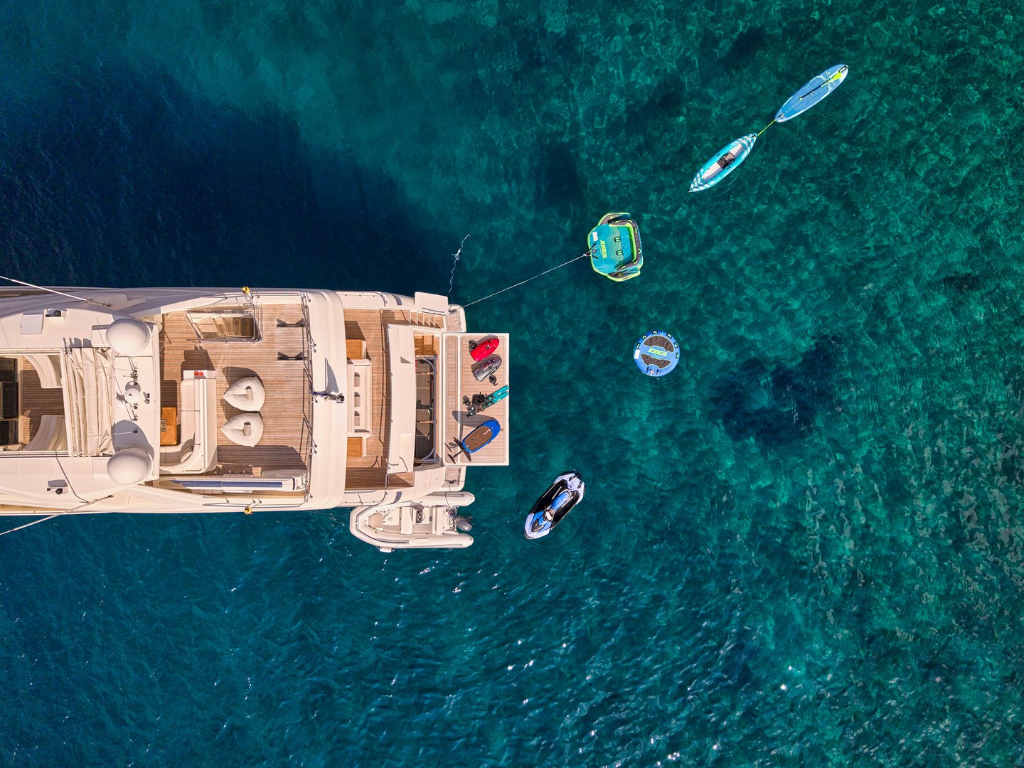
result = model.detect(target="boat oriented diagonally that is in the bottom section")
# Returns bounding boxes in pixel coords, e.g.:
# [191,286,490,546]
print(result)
[524,469,585,539]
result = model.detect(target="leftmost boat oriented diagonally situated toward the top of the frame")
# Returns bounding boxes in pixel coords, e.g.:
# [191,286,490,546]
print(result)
[689,133,757,193]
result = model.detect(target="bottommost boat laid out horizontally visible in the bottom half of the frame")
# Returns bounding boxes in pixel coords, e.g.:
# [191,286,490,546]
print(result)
[349,491,472,549]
